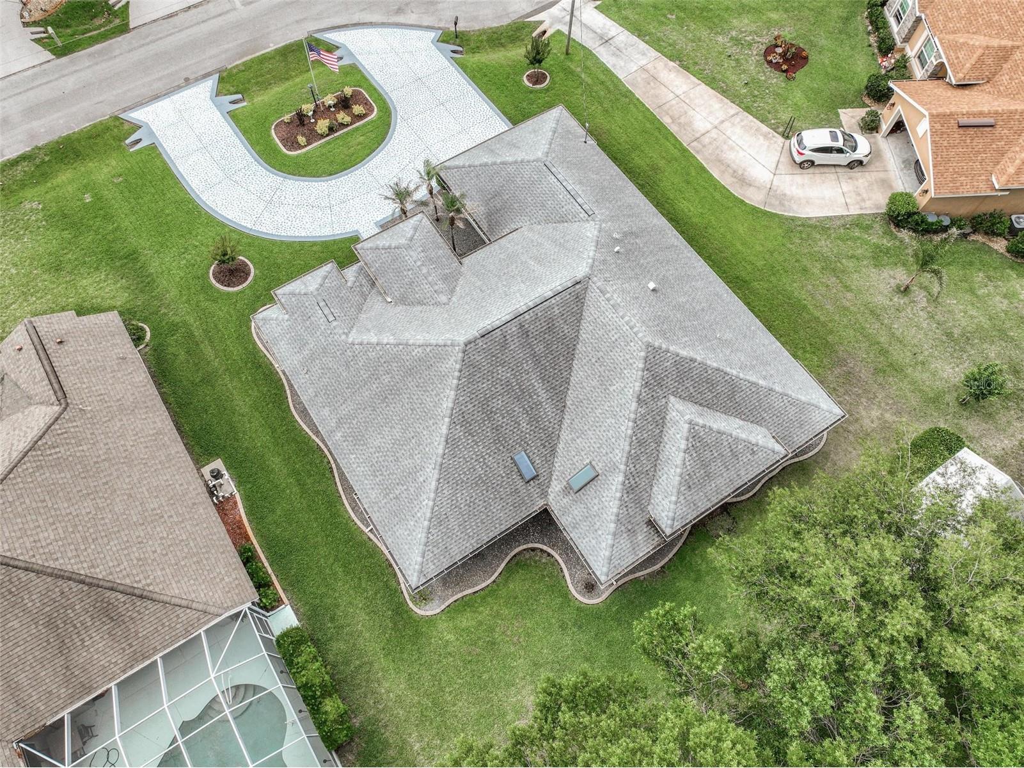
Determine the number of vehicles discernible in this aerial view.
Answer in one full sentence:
There is 1 vehicle in the image.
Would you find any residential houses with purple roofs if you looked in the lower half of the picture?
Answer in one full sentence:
No, in the lower half of the picture there is no residential house with a purple roof.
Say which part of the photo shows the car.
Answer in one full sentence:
The car sits in the top right section of the image.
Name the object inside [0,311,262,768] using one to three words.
house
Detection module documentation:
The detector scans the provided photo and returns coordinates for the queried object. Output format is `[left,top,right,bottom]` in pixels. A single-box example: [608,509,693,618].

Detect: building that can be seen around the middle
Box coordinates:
[246,103,851,603]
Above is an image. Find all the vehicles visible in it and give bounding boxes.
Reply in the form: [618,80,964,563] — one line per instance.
[787,127,874,170]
